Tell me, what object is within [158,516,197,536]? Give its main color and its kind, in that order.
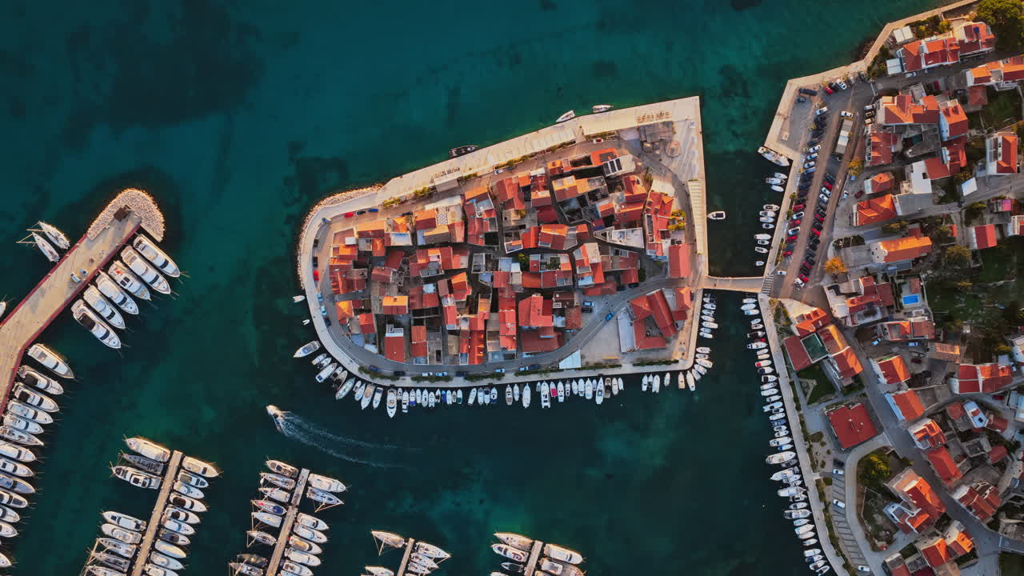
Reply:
white boat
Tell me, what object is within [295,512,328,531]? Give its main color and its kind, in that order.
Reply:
white boat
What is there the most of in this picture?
water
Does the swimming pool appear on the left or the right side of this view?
right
